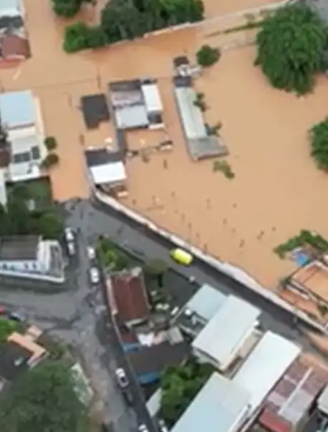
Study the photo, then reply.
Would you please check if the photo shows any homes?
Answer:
Yes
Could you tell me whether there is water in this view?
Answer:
Yes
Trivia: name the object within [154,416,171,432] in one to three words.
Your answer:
car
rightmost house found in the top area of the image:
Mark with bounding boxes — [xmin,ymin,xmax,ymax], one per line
[174,56,228,165]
